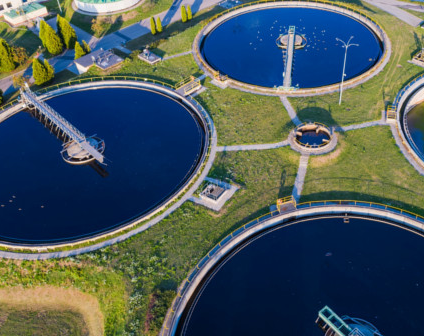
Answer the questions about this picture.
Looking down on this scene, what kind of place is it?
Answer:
industrial area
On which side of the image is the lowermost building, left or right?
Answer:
left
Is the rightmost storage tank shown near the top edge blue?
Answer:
Yes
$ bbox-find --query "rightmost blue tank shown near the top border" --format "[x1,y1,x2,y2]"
[196,0,386,94]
